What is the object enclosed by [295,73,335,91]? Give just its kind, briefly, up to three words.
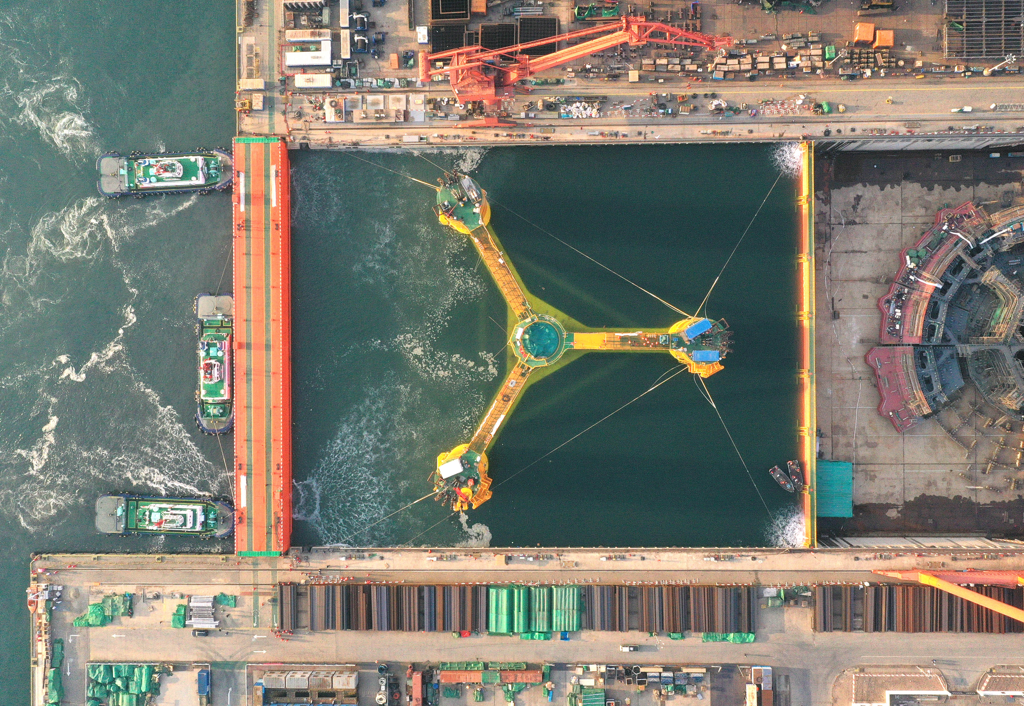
building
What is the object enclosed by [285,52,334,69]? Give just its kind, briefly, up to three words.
building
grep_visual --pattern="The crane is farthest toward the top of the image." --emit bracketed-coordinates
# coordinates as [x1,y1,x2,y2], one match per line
[419,14,735,129]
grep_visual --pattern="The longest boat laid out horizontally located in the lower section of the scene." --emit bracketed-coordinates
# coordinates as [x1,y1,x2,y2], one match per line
[101,491,234,540]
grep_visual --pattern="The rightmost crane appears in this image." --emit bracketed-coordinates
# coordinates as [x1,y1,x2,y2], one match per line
[872,567,1024,624]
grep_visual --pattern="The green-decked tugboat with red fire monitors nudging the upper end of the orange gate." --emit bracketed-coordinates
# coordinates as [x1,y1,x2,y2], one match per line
[99,150,232,201]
